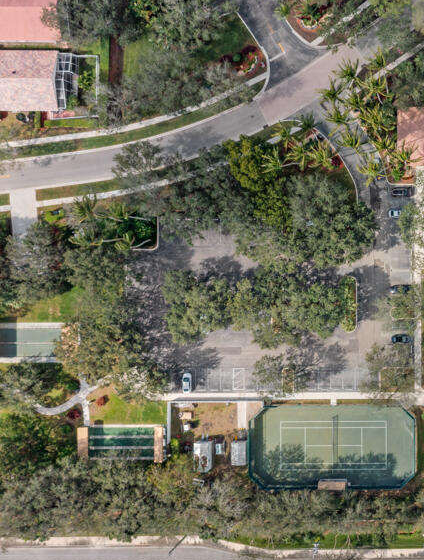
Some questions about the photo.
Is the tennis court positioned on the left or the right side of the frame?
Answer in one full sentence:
You can find the tennis court on the right side of the picture.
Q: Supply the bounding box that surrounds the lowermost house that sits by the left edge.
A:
[0,49,63,112]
